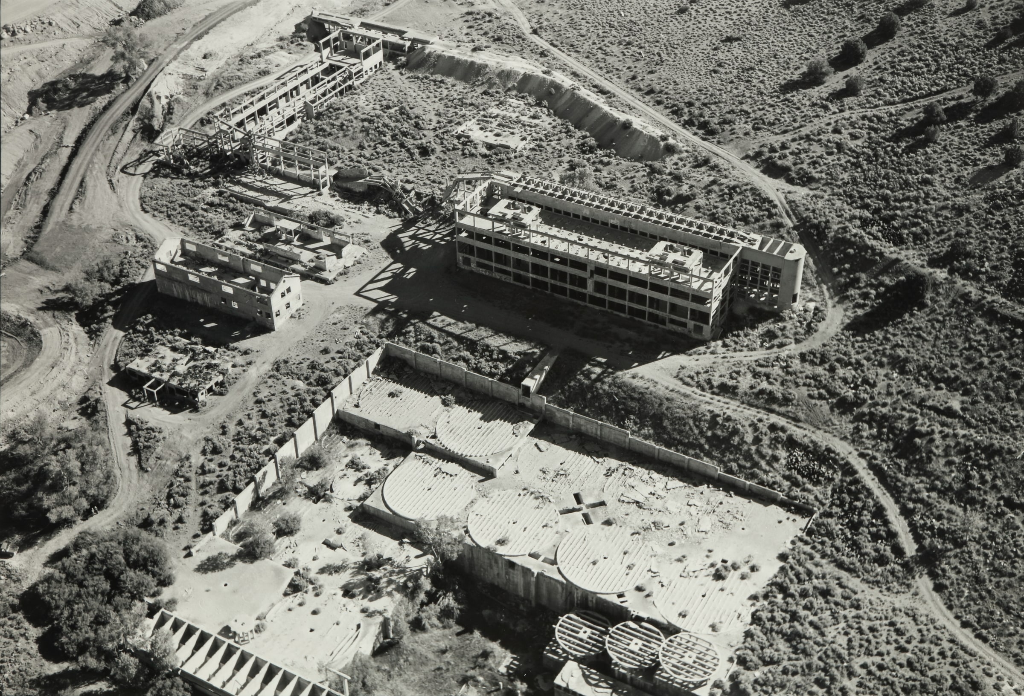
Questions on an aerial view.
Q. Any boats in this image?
No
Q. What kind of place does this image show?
industrial area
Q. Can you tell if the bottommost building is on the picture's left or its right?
left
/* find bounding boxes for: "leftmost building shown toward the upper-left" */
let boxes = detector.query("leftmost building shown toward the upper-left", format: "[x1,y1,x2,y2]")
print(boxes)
[150,127,224,168]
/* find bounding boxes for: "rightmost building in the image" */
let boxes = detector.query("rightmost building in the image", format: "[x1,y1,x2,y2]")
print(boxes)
[455,173,805,338]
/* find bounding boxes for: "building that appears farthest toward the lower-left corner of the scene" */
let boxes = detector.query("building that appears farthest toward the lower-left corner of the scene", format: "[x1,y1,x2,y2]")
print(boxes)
[126,346,225,407]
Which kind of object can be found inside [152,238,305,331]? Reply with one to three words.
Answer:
building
